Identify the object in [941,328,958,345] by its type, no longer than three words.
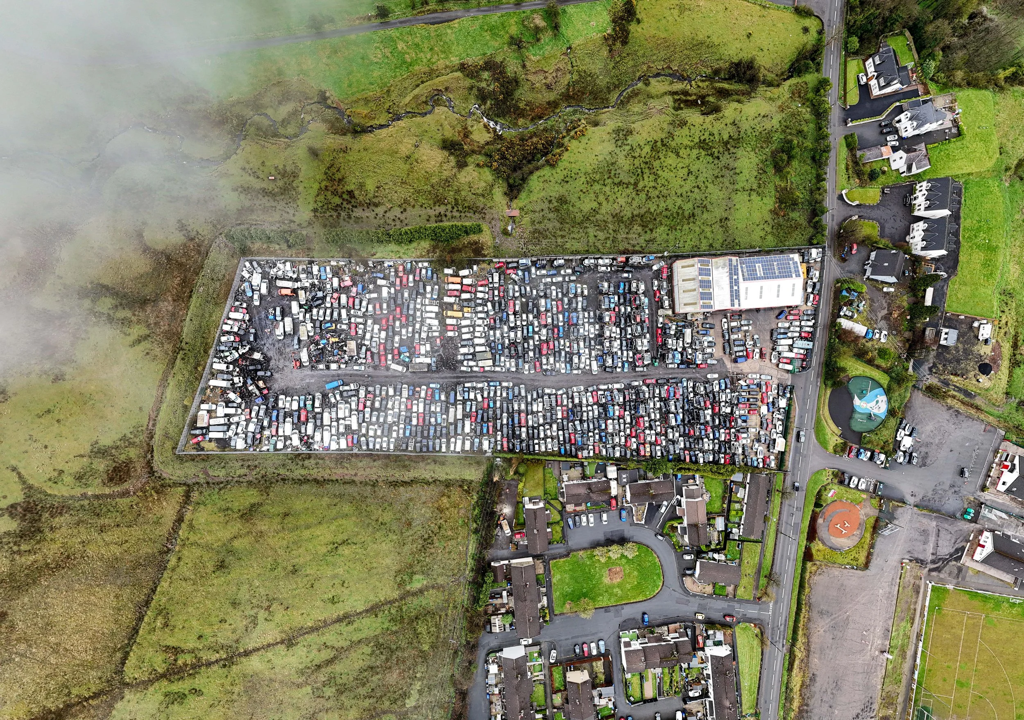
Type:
camper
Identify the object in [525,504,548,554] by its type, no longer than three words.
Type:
house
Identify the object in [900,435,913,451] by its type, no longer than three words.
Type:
vehicle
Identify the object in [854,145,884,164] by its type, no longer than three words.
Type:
shed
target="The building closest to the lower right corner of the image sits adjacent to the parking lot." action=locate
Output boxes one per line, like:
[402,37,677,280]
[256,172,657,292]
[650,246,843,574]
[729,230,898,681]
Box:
[968,528,1024,577]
